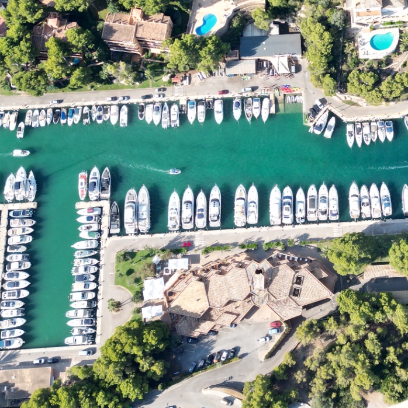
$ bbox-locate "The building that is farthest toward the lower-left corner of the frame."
[0,367,55,405]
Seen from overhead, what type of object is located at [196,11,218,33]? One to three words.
swimming pool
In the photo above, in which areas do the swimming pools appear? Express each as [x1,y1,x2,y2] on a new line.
[369,31,394,51]
[196,11,218,33]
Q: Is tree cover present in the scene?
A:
Yes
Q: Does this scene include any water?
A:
Yes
